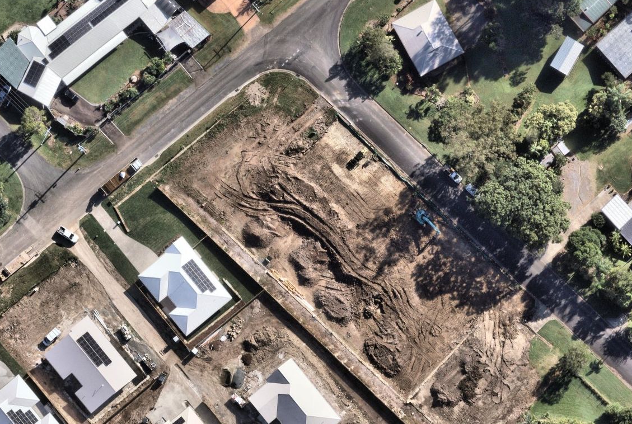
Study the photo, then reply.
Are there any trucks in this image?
Yes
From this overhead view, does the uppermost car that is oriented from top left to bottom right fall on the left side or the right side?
left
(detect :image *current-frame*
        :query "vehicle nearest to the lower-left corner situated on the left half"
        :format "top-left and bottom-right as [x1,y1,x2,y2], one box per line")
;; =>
[38,324,65,349]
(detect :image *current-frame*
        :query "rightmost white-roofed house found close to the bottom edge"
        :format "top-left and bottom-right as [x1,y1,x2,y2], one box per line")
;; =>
[248,358,341,424]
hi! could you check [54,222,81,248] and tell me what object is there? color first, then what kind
white truck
